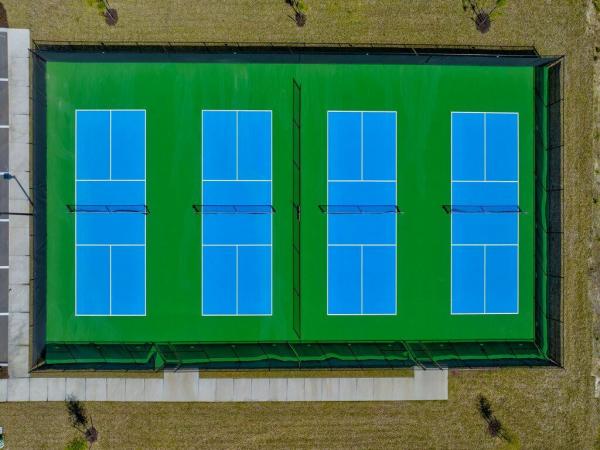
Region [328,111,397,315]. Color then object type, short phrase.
blue sports court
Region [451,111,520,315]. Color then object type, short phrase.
blue sports court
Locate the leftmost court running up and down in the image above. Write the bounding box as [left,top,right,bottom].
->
[74,109,146,316]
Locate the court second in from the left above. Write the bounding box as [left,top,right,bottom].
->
[202,110,272,316]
